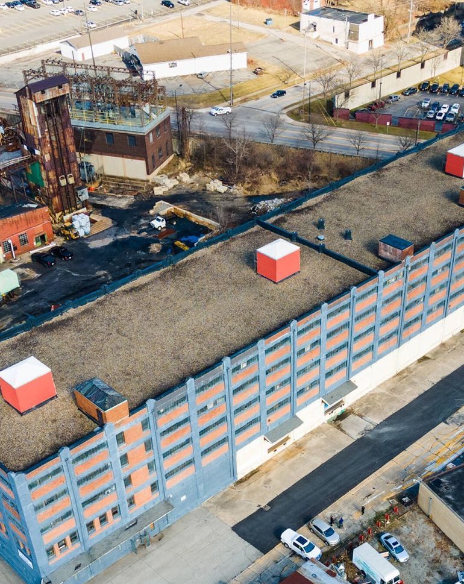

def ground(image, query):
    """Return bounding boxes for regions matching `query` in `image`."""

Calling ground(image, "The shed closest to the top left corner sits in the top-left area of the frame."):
[59,27,129,61]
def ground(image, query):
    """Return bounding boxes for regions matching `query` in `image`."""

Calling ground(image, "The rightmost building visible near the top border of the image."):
[300,7,384,53]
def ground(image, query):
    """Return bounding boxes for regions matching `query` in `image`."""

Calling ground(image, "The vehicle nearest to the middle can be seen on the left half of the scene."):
[150,216,178,230]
